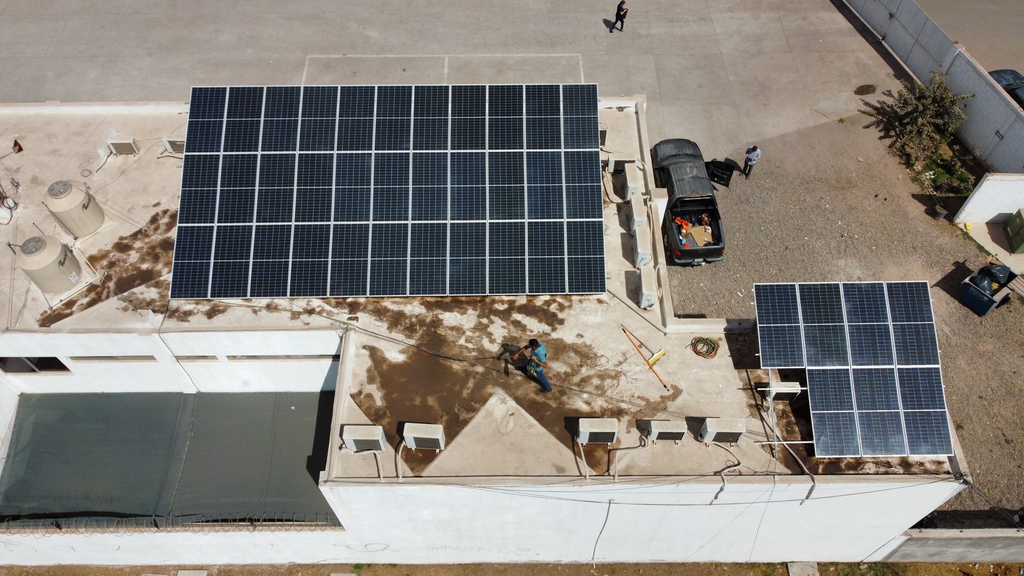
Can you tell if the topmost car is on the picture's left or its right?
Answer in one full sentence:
The topmost car appears in the right half of the scene.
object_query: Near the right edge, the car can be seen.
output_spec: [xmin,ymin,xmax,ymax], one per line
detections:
[991,73,1024,114]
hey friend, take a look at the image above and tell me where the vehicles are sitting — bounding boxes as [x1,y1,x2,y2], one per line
[652,140,739,269]
[991,73,1024,114]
